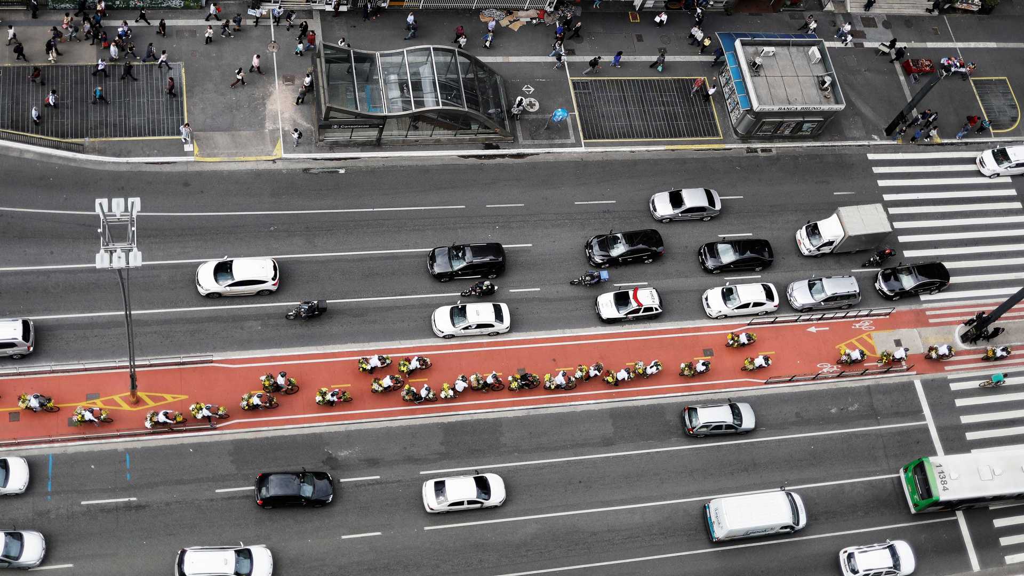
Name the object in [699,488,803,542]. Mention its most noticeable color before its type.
white van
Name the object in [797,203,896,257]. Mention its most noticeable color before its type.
white truck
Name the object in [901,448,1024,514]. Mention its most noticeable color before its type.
white bus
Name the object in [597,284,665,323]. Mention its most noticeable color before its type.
white car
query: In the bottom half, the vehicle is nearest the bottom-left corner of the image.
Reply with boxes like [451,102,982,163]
[0,524,47,571]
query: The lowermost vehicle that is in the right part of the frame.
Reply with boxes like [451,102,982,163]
[841,540,917,576]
